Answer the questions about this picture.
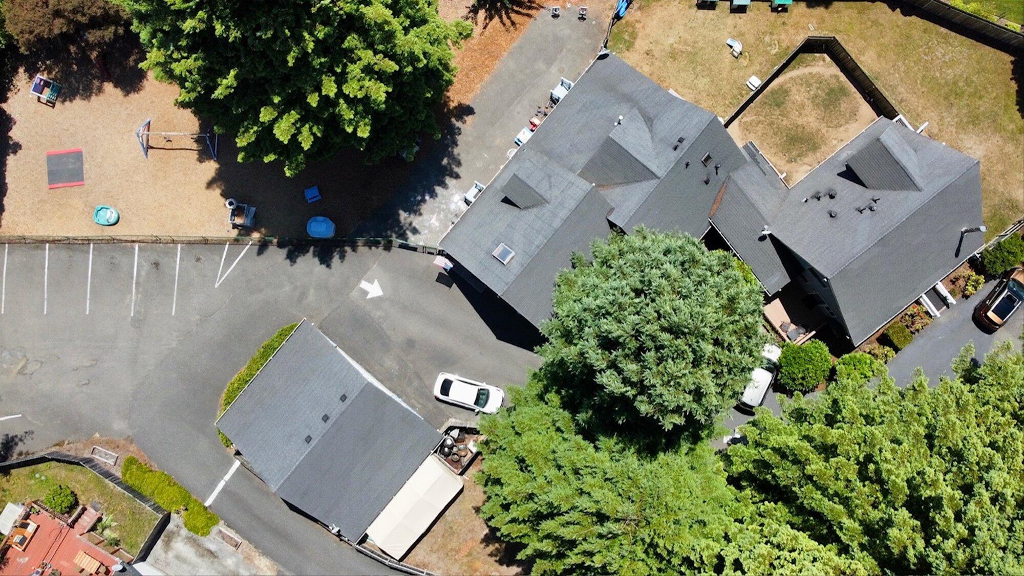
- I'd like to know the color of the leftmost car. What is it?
white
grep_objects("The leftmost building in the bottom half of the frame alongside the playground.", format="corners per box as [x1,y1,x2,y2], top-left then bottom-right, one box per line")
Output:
[214,319,443,543]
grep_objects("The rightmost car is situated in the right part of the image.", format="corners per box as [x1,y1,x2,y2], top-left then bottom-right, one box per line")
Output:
[964,265,1024,334]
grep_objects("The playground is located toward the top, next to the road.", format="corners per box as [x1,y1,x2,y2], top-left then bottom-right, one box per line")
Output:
[0,0,546,241]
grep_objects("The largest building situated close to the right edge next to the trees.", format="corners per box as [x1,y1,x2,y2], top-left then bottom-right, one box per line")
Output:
[765,116,989,347]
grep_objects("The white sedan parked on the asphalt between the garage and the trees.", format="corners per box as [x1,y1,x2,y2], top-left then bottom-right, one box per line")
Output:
[432,375,505,417]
